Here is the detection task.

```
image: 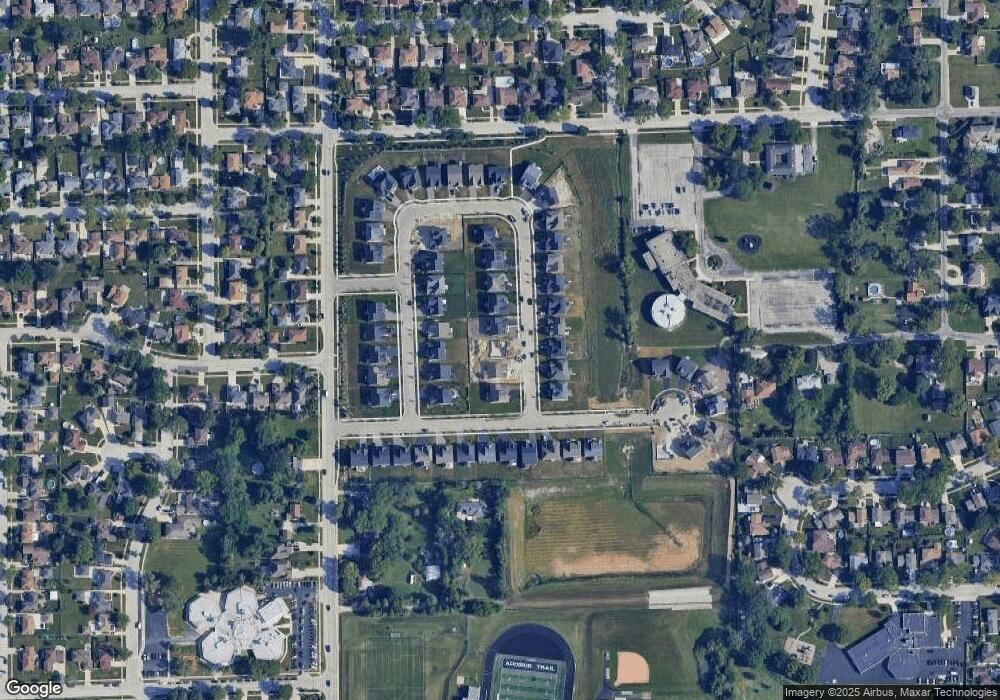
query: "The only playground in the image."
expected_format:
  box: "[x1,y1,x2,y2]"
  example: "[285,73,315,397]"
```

[785,638,814,665]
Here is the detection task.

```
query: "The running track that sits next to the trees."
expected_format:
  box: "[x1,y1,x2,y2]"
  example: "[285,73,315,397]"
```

[479,620,576,700]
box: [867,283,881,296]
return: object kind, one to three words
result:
swimming pool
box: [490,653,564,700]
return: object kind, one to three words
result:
sports field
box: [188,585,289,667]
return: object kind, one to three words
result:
building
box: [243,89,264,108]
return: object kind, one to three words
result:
house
